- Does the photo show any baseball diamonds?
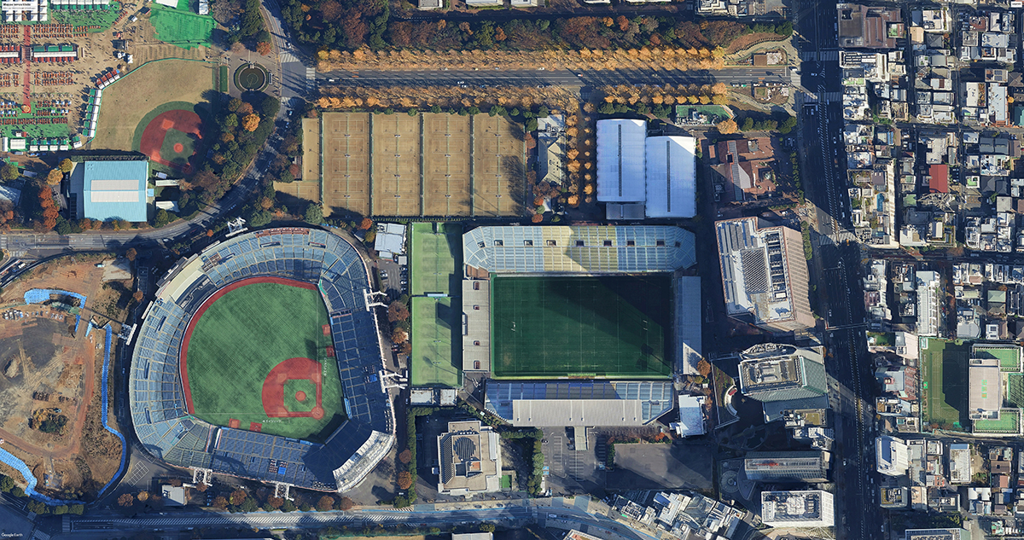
Yes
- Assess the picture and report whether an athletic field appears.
Yes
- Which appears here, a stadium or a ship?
stadium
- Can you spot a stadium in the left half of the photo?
Yes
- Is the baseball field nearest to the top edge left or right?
left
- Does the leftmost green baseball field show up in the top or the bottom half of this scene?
bottom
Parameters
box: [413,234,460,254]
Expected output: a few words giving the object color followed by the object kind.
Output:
green tennis court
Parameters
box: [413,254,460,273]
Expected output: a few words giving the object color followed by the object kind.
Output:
green tennis court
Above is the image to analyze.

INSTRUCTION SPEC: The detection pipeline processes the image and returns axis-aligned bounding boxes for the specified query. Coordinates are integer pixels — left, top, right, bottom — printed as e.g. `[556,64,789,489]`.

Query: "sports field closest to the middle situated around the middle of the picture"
[491,273,672,380]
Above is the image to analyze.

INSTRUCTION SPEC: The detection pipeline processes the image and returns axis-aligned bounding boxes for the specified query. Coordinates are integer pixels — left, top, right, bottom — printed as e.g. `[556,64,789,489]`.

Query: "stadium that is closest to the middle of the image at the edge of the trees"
[462,225,702,450]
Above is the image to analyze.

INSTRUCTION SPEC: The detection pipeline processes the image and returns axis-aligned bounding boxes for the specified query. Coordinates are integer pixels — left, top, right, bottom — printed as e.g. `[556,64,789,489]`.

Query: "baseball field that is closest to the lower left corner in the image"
[181,277,349,441]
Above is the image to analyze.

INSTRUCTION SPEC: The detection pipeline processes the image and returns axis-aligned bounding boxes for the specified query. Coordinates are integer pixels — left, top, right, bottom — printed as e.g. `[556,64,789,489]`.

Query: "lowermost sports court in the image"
[973,407,1024,436]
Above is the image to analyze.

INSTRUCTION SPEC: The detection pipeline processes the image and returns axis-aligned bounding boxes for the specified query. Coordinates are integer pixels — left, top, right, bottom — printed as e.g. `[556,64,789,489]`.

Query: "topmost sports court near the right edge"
[973,345,1024,374]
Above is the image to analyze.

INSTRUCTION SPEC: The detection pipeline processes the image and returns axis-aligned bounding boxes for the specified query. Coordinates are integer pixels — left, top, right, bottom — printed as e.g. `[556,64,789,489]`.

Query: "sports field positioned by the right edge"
[921,338,973,432]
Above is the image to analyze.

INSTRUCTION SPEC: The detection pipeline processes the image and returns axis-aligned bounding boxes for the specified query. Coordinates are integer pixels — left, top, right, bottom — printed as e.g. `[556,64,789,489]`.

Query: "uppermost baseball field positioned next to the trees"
[90,60,218,177]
